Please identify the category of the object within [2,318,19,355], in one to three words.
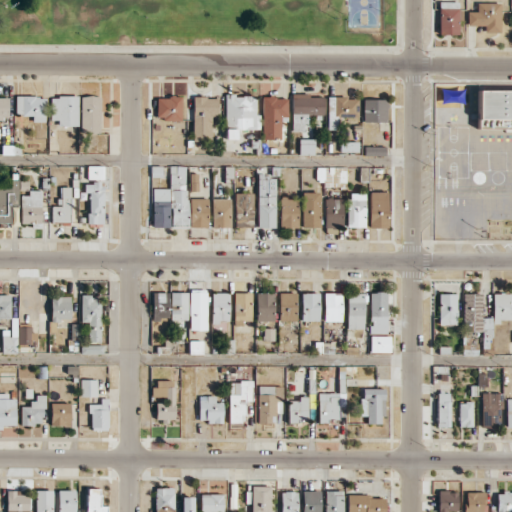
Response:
house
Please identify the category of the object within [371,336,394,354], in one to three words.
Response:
shed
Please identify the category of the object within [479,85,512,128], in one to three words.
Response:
building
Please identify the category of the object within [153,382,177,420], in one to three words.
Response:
house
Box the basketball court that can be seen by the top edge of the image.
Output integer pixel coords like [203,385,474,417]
[348,0,384,33]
